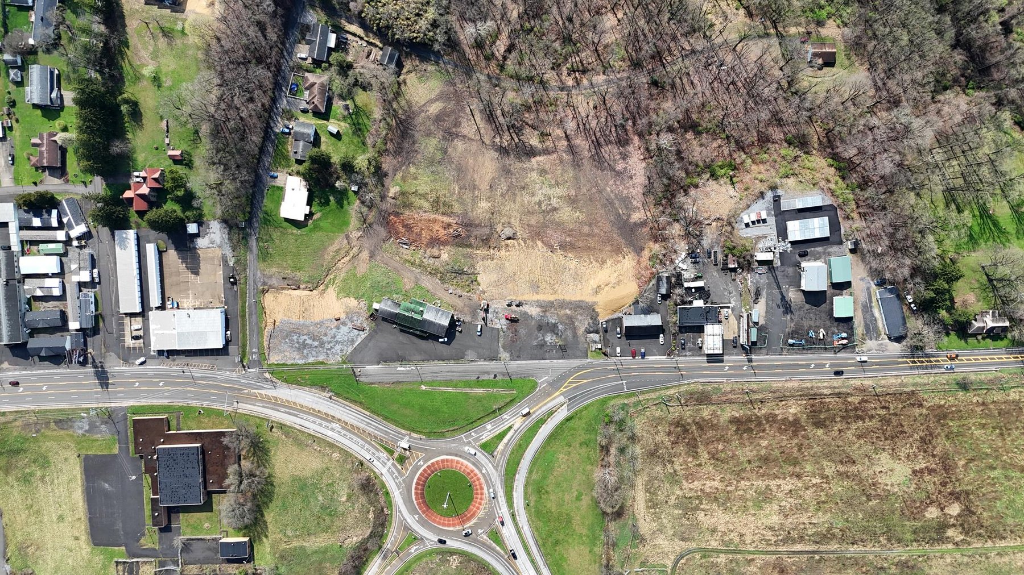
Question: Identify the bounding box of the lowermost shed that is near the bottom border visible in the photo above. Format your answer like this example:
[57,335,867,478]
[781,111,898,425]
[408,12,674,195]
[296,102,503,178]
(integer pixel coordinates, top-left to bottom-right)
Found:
[220,538,252,558]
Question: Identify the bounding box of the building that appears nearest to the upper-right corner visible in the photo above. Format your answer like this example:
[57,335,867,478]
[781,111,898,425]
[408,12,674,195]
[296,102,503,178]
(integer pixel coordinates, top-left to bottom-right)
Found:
[805,43,838,67]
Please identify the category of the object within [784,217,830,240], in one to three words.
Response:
building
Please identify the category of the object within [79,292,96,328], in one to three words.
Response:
house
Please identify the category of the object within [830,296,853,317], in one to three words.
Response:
shed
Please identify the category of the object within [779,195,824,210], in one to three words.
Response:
building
